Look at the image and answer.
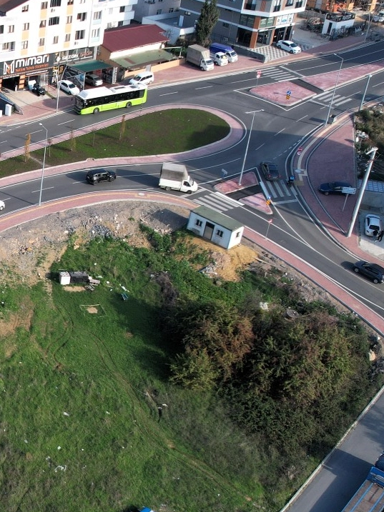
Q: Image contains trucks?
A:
Yes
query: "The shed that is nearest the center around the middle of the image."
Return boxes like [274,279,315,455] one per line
[187,200,252,246]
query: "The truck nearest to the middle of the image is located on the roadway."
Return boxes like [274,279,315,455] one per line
[155,164,203,194]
